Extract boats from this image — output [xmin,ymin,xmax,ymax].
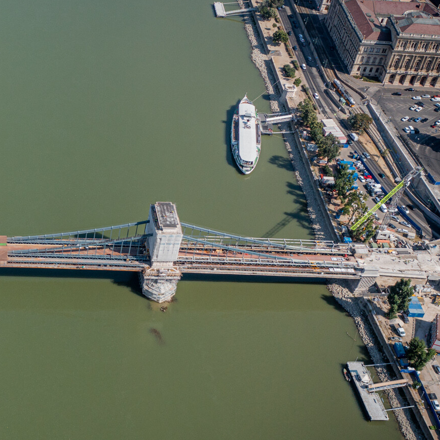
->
[231,94,262,177]
[343,369,352,381]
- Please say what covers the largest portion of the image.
water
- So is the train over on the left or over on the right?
right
